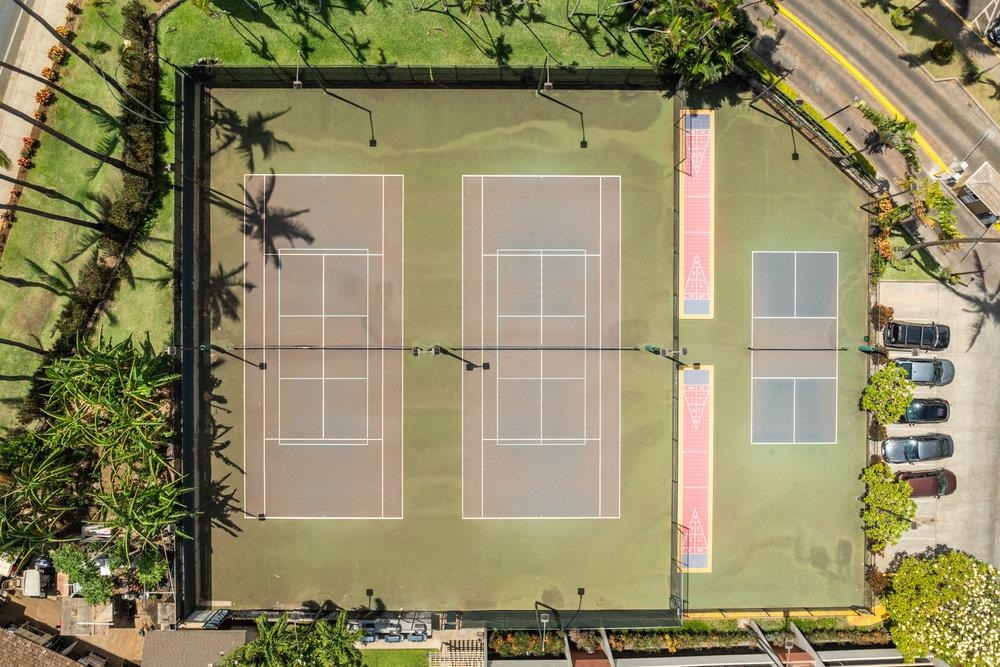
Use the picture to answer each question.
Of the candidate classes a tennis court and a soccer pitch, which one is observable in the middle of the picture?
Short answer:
tennis court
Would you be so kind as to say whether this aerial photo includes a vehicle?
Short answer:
Yes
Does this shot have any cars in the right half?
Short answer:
Yes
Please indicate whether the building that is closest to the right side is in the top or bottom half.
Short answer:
top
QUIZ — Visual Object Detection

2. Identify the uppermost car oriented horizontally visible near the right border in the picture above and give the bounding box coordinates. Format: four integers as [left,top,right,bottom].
[881,318,953,354]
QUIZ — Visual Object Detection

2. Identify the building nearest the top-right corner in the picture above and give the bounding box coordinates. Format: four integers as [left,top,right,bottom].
[946,156,1000,234]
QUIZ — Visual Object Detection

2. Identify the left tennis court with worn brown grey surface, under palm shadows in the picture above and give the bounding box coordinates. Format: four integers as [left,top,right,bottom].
[243,175,403,520]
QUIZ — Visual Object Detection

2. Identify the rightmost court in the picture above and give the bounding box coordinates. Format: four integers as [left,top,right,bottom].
[752,251,839,445]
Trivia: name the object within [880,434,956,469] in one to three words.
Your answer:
car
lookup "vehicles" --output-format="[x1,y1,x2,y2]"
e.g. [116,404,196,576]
[881,318,953,354]
[891,468,961,502]
[880,434,956,469]
[891,355,957,389]
[22,562,59,597]
[892,397,953,429]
